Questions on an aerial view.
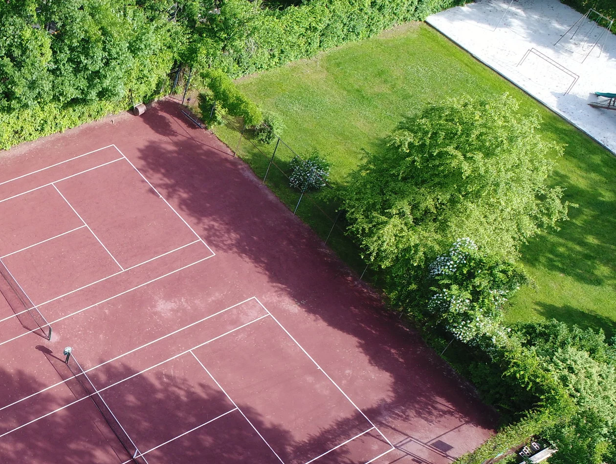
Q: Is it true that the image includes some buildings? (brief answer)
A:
No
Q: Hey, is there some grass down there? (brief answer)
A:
Yes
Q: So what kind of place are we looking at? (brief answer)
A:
sports ground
